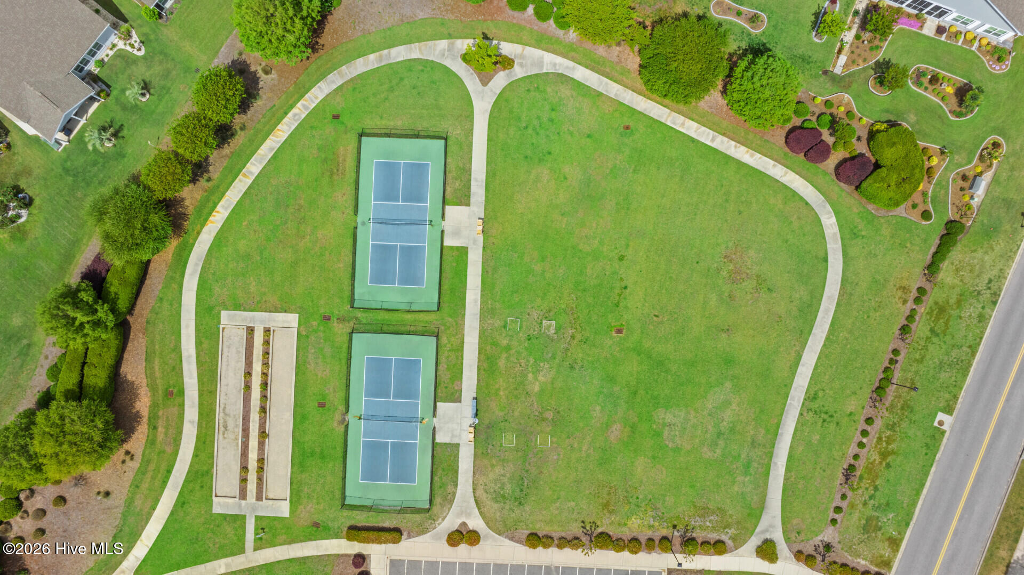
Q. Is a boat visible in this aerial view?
No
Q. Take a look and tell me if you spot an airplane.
No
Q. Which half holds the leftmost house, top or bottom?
top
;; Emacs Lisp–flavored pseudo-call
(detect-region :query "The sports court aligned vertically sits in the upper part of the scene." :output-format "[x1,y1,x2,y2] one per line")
[354,136,445,311]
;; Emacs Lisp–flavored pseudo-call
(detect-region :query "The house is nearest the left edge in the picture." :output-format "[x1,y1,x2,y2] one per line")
[0,0,120,150]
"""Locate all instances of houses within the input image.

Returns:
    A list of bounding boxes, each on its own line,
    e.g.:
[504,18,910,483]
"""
[0,0,120,150]
[894,0,1024,41]
[142,0,176,15]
